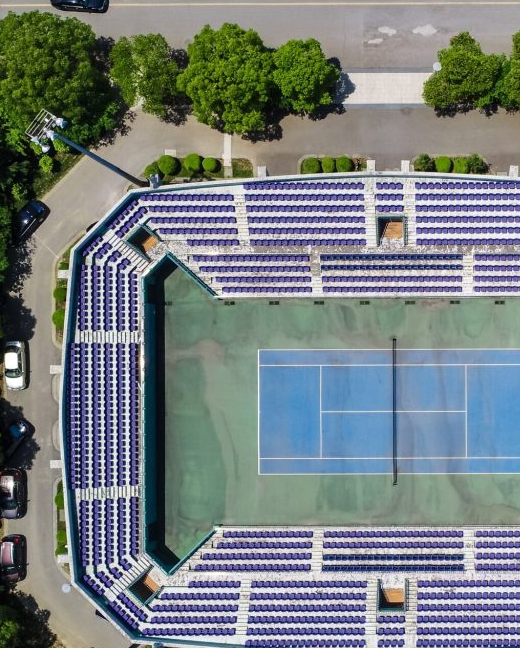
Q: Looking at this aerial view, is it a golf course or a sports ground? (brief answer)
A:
sports ground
